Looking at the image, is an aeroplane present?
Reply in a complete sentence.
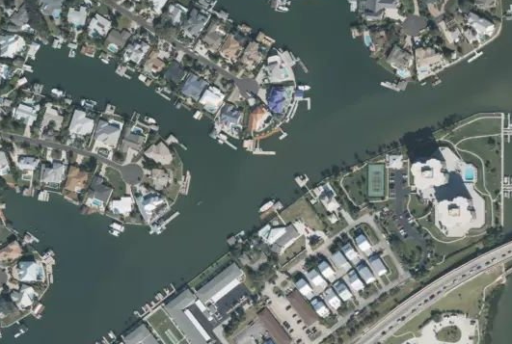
No, the scene contains no aeroplane.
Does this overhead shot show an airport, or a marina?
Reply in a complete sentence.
The picture captures a marina.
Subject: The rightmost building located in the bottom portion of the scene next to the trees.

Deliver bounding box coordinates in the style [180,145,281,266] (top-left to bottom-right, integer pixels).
[433,196,474,239]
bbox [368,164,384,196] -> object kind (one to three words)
tennis court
